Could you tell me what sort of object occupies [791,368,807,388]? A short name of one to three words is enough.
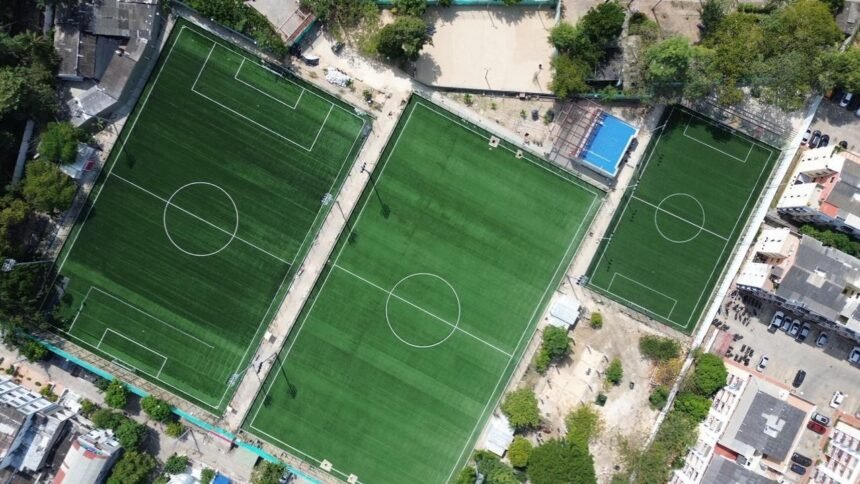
car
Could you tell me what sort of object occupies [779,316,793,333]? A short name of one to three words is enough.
vehicle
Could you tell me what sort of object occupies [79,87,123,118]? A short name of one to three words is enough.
building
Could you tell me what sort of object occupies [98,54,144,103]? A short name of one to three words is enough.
building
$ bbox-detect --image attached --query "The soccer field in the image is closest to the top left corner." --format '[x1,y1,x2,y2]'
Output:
[31,15,373,418]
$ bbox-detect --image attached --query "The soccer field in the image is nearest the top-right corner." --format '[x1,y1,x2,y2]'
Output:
[585,101,782,338]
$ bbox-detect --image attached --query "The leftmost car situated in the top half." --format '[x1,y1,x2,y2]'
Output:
[330,39,345,56]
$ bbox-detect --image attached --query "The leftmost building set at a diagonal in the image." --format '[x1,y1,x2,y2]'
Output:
[10,410,74,484]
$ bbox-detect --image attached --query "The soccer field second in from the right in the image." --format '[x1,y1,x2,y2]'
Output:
[239,92,610,484]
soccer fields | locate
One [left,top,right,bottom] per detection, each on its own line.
[31,15,373,418]
[239,92,610,484]
[585,101,782,338]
